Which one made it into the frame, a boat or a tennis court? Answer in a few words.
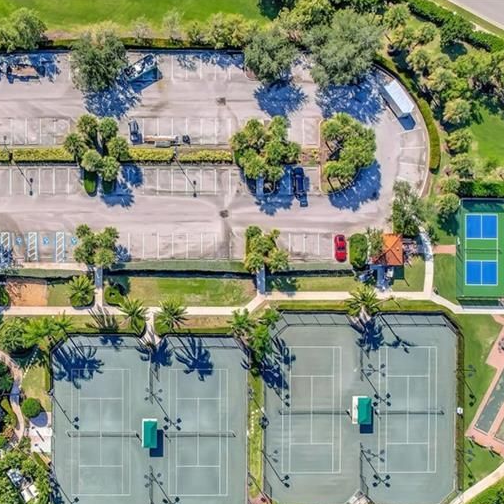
tennis court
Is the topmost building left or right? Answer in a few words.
right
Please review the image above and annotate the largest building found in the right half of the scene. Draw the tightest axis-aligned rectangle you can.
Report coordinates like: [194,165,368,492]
[369,234,404,265]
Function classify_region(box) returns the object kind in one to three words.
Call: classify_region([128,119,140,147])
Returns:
vehicle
